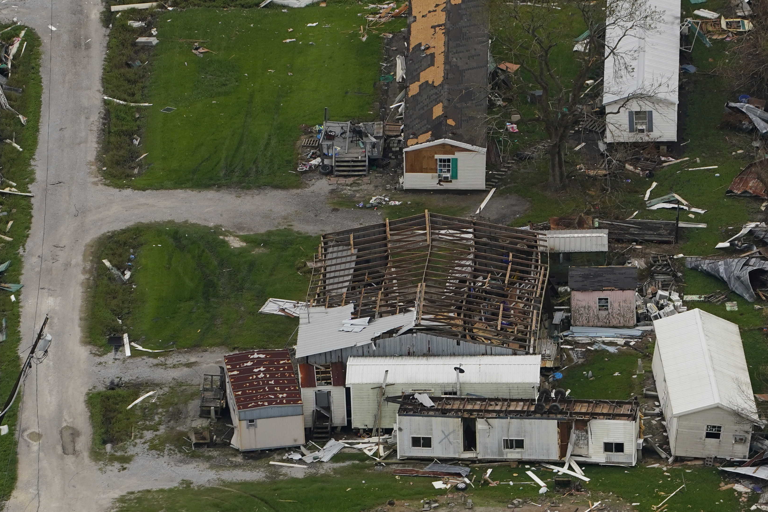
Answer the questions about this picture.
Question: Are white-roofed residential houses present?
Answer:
Yes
